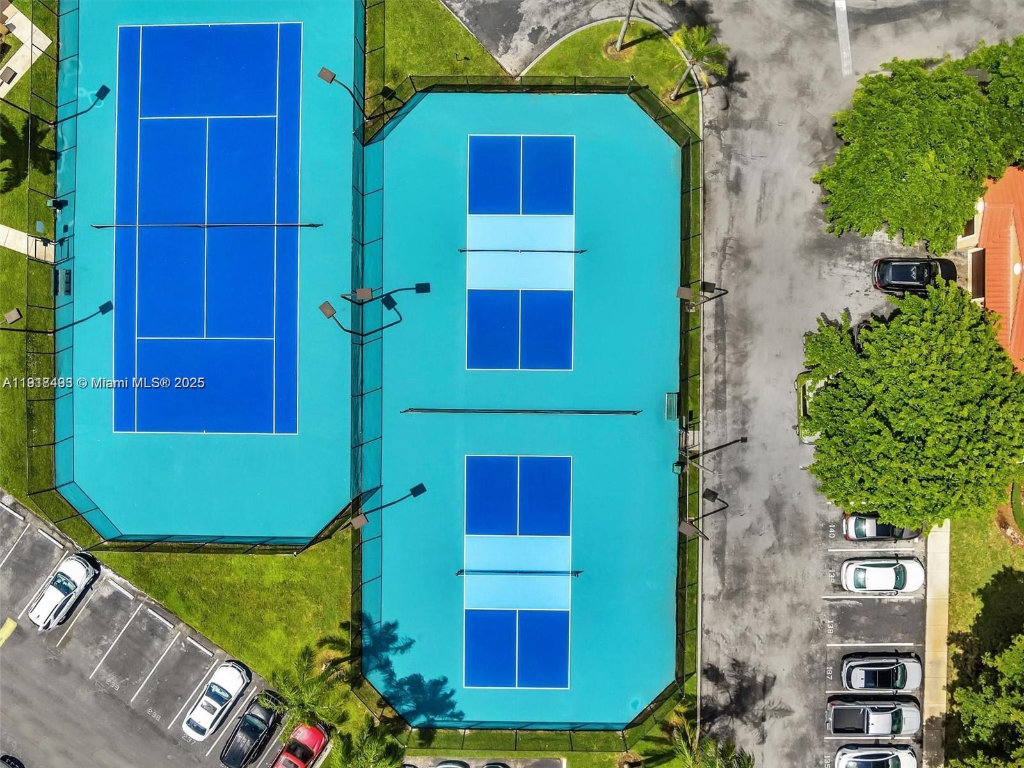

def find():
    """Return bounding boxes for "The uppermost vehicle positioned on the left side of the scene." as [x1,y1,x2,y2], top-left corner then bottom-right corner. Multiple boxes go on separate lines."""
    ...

[24,553,98,633]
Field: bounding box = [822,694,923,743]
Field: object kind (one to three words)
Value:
truck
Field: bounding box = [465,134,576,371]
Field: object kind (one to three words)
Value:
sports court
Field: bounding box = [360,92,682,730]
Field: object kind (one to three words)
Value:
sports court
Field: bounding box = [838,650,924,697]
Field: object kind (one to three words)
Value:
car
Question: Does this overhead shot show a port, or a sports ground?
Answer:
sports ground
